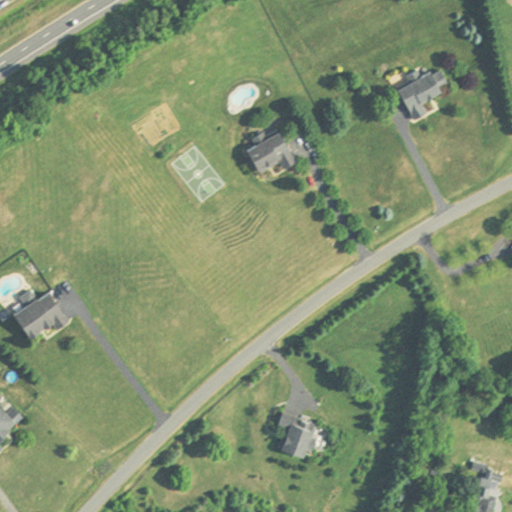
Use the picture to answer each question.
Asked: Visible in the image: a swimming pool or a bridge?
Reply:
swimming pool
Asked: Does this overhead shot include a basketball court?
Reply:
Yes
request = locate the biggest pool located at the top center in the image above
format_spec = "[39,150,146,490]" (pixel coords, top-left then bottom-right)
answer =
[228,83,260,114]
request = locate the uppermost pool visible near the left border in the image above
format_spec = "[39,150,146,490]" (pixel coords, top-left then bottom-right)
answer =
[0,273,32,308]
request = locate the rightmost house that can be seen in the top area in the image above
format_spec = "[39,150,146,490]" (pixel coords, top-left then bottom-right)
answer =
[397,70,446,116]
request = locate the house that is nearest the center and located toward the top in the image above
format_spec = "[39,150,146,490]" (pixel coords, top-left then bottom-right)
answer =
[247,130,294,174]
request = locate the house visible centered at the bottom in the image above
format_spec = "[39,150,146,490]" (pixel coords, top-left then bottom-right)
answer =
[282,425,320,462]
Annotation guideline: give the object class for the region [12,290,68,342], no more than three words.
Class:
house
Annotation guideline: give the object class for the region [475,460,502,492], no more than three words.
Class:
house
